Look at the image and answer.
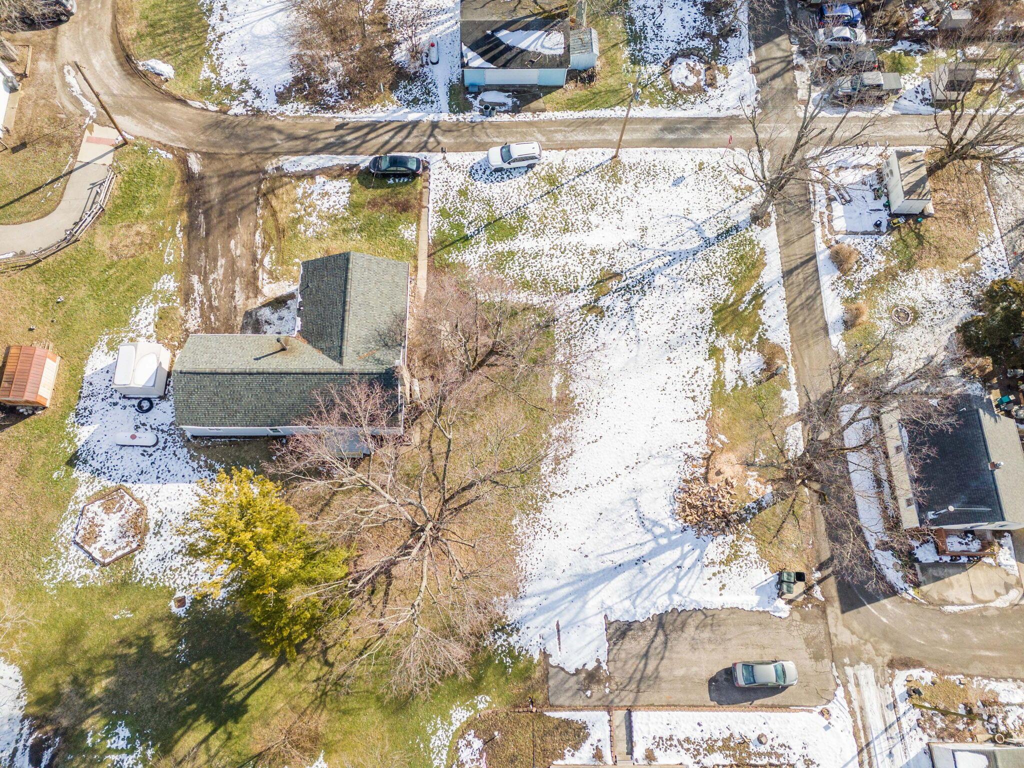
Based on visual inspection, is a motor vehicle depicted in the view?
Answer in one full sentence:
Yes, a motor vehicle is visible in the scene.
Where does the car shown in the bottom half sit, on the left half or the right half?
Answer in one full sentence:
The car shown in the bottom half sits on the right side.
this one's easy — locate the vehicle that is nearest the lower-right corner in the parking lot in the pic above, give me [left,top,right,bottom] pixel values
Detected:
[731,658,798,689]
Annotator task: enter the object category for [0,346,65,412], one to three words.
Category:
shed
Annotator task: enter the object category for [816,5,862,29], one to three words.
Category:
car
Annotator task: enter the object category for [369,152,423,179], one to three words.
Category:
car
